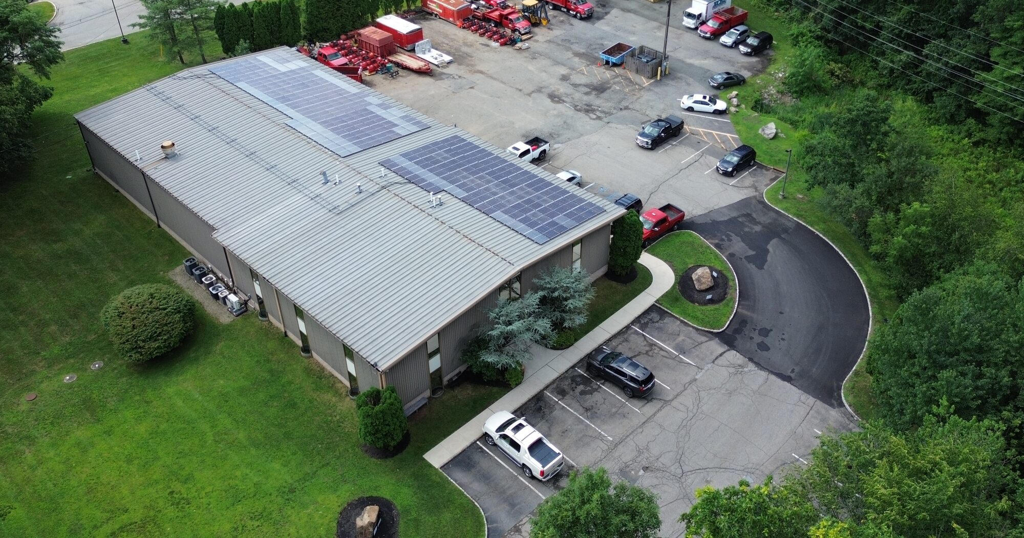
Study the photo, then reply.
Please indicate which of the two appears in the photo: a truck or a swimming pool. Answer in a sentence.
This aerial view contains a truck.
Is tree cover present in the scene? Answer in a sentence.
Yes, tree cover can be seen from above here.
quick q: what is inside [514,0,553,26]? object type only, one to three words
work vehicle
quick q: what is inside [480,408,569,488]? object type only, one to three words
truck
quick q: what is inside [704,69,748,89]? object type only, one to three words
car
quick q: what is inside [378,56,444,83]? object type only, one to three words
trailer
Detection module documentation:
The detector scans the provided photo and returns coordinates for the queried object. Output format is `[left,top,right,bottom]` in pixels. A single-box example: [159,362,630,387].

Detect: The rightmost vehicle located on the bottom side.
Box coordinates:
[585,346,661,400]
